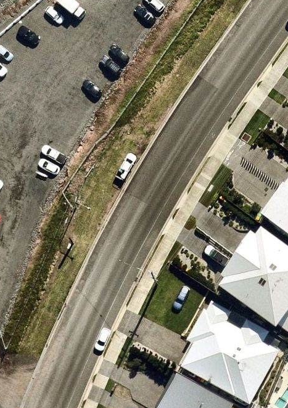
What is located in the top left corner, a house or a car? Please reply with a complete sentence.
The one visible in the top left corner is a car.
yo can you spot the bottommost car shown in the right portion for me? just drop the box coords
[172,285,190,311]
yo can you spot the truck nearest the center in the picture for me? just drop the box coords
[111,153,136,191]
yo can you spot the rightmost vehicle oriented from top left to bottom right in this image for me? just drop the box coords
[202,246,230,269]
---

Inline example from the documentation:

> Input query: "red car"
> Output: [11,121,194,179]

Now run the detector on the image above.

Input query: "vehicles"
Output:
[111,153,136,191]
[94,327,112,355]
[172,285,190,311]
[0,44,15,64]
[97,53,125,80]
[80,79,103,103]
[0,62,10,79]
[202,246,230,269]
[143,0,167,14]
[108,43,132,67]
[40,143,68,168]
[44,5,66,25]
[53,0,88,22]
[132,3,157,29]
[15,27,40,45]
[37,157,62,178]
